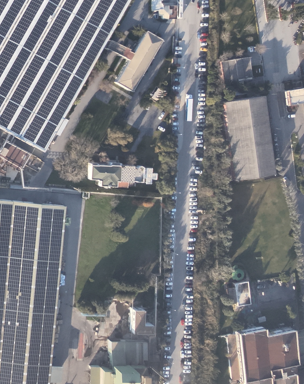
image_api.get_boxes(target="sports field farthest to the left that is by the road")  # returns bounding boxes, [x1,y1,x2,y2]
[78,197,161,299]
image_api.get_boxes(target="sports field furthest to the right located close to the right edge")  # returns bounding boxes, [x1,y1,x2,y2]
[232,177,302,281]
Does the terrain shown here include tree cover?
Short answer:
Yes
